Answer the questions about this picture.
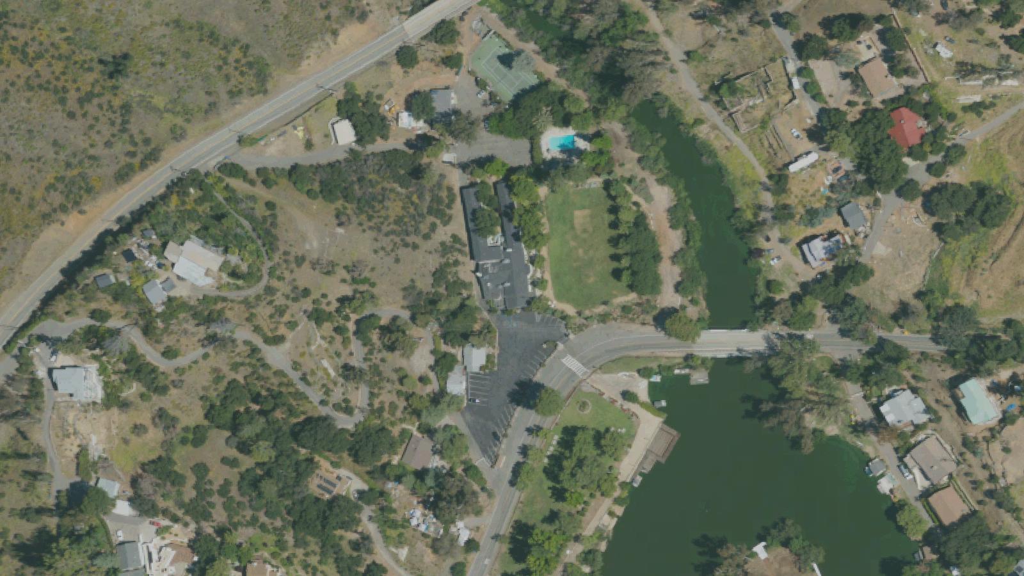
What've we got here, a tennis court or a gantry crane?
tennis court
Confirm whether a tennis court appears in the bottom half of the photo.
No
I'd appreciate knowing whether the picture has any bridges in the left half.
No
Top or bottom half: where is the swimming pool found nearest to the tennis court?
top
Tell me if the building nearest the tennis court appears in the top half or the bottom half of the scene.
top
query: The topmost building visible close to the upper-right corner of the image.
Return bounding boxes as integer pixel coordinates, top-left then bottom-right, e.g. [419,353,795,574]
[859,59,898,97]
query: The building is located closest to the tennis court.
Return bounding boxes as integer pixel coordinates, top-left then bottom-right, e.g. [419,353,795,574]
[432,90,456,111]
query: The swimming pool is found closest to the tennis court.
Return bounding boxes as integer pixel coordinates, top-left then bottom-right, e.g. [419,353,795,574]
[542,126,591,159]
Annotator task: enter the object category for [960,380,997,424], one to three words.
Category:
house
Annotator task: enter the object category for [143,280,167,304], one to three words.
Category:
house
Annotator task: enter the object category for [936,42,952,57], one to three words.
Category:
vehicle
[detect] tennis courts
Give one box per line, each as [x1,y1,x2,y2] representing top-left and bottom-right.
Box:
[472,35,538,99]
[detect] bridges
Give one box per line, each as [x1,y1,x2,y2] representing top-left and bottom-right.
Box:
[690,330,766,357]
